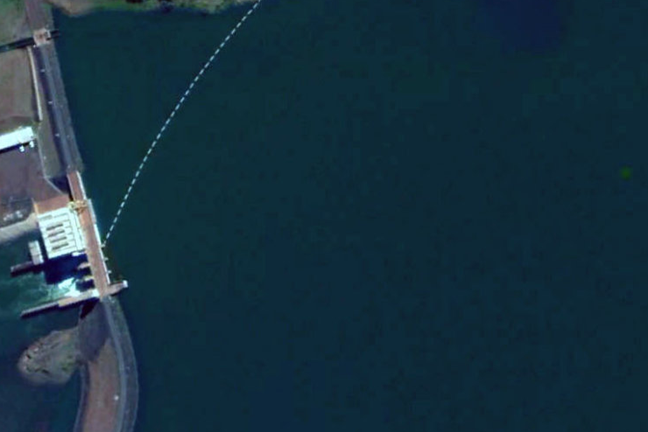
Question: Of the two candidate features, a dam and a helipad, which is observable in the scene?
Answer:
dam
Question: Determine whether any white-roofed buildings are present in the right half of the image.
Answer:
No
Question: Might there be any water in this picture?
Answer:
Yes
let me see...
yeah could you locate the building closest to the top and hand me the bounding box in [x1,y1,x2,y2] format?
[0,126,38,150]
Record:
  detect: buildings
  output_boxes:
[32,196,89,257]
[0,126,38,150]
